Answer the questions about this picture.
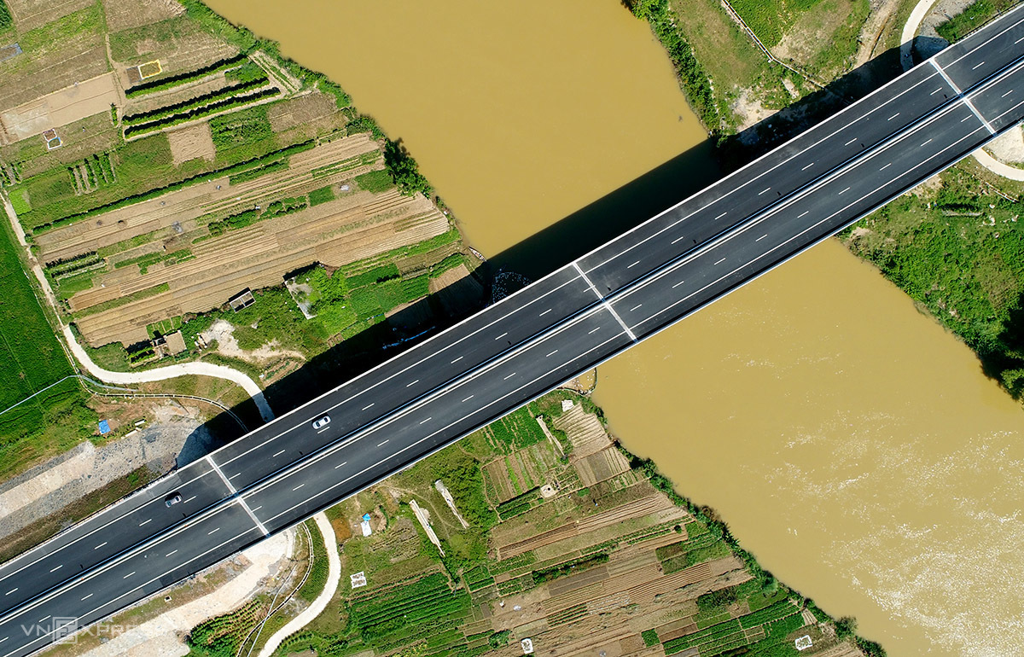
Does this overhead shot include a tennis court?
No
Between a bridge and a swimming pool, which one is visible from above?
bridge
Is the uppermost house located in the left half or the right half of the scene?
left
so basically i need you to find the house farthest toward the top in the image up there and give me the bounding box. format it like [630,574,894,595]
[285,265,322,319]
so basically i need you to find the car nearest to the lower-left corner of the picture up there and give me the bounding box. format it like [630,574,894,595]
[165,492,183,505]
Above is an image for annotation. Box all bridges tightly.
[183,40,1016,560]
